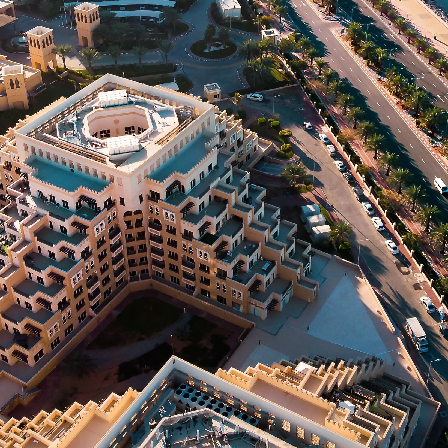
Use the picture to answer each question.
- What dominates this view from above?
buildings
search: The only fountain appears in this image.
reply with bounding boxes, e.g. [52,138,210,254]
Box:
[1,33,30,51]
